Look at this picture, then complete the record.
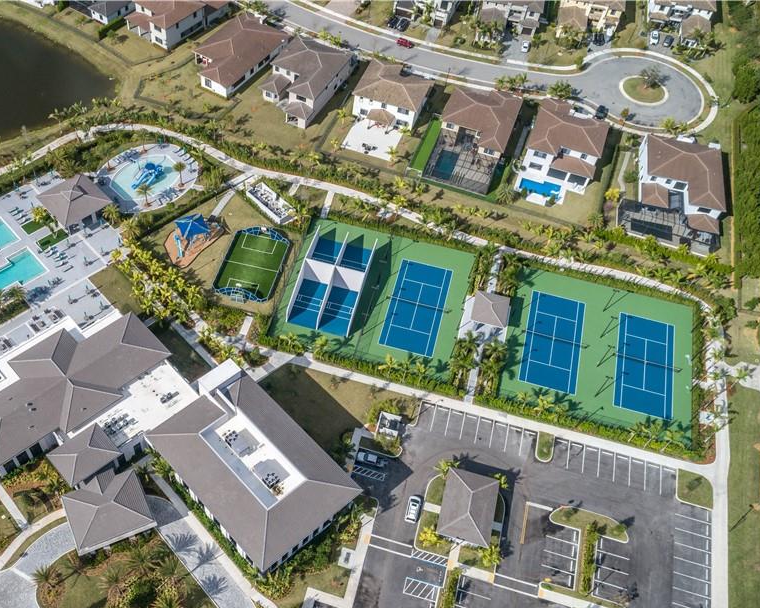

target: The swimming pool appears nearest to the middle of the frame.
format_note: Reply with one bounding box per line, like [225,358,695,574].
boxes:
[430,148,460,182]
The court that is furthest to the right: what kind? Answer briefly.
tennis court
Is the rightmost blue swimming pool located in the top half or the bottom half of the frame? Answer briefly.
top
